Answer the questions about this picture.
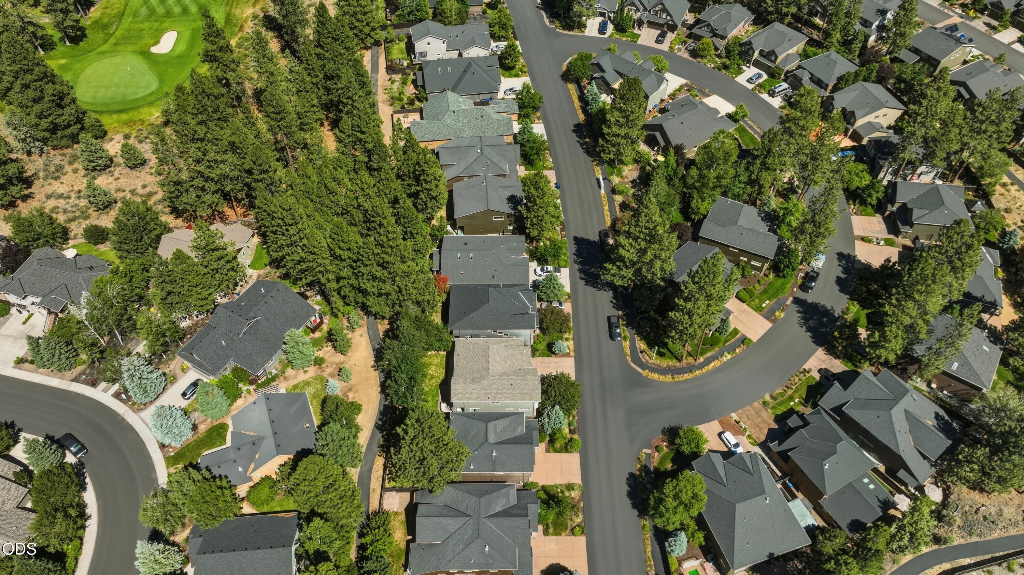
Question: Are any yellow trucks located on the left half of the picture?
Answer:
No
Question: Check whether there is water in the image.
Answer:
No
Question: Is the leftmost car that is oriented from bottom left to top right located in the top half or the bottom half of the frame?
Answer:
bottom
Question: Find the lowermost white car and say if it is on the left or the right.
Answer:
right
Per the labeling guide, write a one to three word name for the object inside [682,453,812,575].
house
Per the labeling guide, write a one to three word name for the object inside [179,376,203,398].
car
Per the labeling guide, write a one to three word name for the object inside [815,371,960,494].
house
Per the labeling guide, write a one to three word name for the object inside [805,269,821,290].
vehicle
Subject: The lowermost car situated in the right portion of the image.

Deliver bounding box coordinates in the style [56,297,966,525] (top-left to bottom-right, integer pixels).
[721,428,745,453]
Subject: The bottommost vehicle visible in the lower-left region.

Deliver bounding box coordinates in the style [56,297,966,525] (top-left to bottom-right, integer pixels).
[60,431,85,455]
